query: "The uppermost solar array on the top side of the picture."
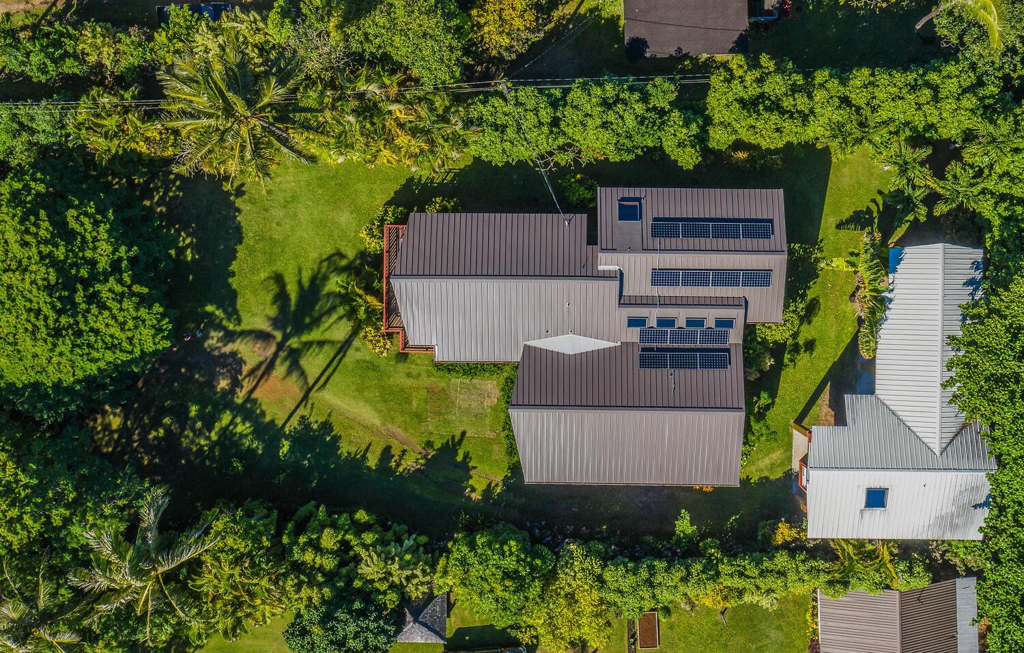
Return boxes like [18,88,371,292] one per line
[651,222,772,239]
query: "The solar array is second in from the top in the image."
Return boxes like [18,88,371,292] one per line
[650,270,772,287]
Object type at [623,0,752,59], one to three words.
house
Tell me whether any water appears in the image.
No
